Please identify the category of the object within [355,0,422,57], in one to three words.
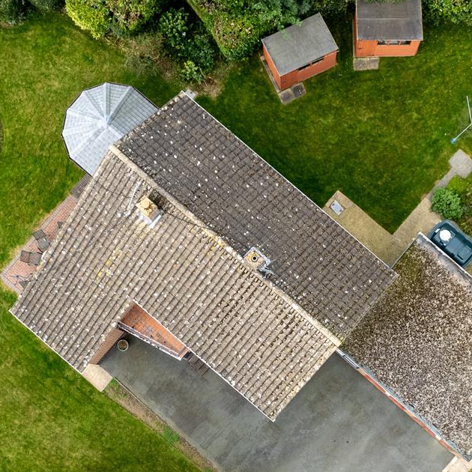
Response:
shed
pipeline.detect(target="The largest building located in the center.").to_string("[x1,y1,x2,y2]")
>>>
[5,88,396,417]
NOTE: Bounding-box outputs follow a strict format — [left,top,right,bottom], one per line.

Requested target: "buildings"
[355,0,422,57]
[5,88,396,417]
[262,12,338,90]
